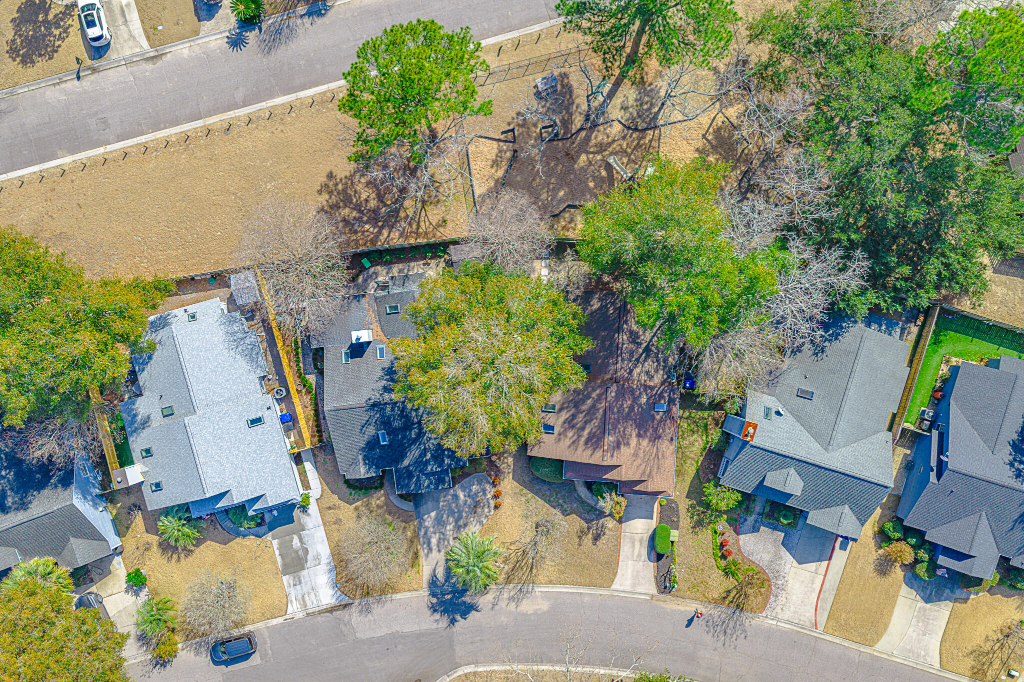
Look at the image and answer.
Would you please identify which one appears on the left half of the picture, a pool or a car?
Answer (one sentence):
The feature located on the left half of the picture is a car.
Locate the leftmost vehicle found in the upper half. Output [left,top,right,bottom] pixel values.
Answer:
[78,0,113,44]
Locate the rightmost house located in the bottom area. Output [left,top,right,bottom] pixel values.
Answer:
[895,355,1024,580]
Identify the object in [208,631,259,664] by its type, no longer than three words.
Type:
car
